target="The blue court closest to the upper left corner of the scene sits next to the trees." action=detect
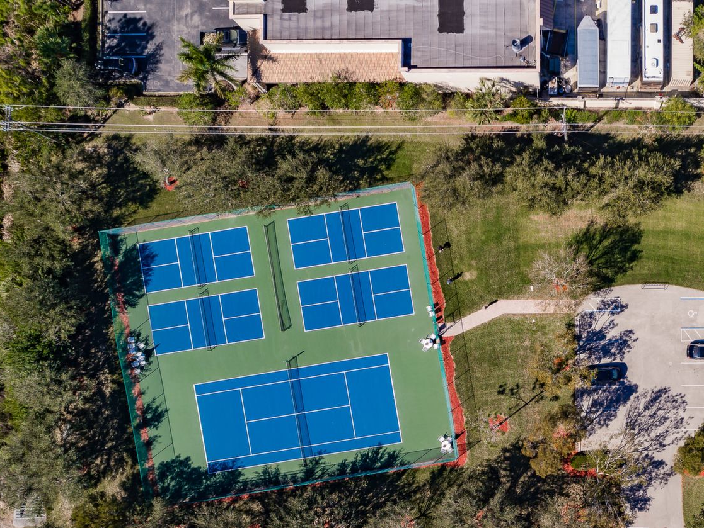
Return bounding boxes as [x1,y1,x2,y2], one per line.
[138,227,254,293]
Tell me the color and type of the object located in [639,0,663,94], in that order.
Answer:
white camper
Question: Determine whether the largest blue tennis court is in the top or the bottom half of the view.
bottom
